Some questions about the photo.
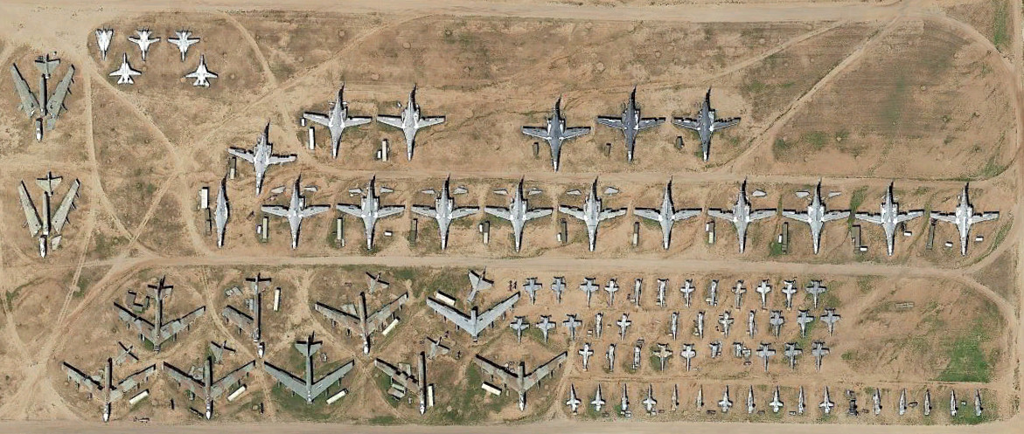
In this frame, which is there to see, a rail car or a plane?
plane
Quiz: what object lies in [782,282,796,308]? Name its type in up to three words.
airplane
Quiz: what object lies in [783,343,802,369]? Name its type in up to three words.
airplane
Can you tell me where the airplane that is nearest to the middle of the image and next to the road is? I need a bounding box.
[485,182,553,252]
